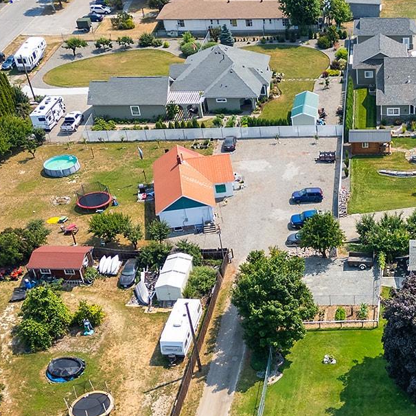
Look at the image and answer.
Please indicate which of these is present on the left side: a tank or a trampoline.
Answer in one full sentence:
There is a trampoline on the left side.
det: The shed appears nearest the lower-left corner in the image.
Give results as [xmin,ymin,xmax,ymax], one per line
[27,243,95,283]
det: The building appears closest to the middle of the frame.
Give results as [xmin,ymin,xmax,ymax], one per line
[153,147,235,238]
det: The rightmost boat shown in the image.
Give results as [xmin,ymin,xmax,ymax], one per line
[134,285,155,304]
